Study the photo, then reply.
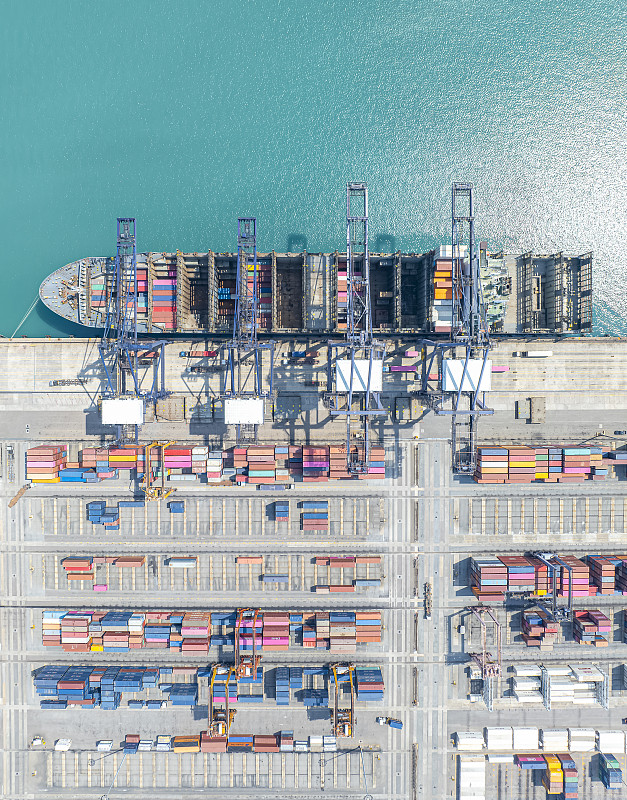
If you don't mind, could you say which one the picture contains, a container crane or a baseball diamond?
container crane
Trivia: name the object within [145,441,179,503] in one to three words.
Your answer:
crane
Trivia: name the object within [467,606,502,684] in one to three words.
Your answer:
crane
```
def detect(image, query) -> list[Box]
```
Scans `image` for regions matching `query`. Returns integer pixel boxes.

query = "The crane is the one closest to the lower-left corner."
[207,662,240,744]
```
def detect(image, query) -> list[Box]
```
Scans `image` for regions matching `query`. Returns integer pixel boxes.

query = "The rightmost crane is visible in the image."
[533,554,574,625]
